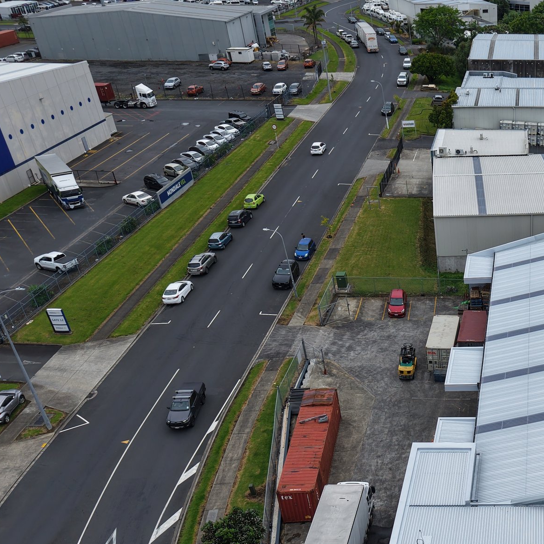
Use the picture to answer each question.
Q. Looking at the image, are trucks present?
Yes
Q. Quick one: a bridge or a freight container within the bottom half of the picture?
freight container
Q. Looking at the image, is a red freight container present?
Yes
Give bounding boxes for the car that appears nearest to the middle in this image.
[273,256,300,285]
